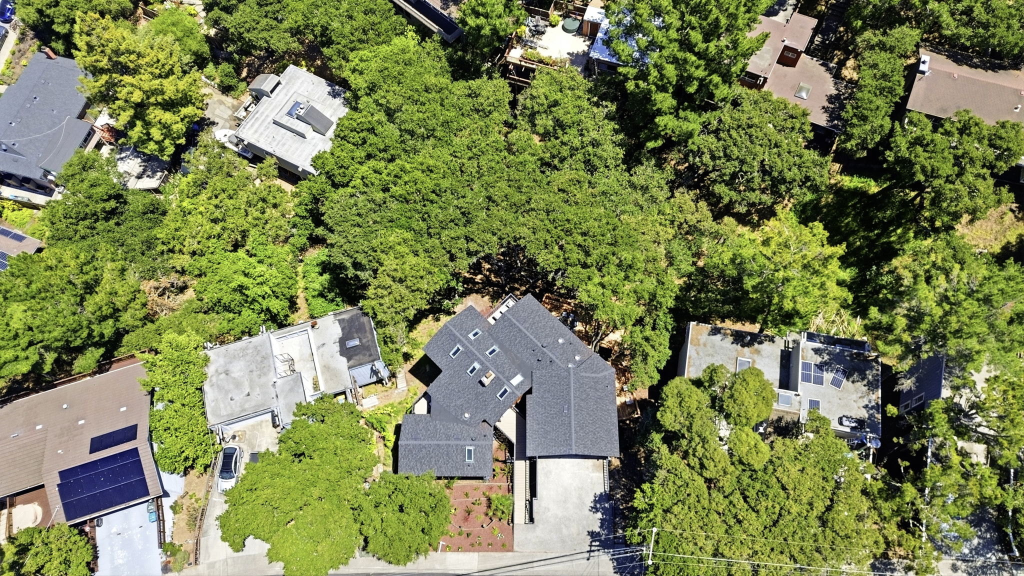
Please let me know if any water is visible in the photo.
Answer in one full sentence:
No, there is no water in the image.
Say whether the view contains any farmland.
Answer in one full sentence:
No, the picture contains no farmland.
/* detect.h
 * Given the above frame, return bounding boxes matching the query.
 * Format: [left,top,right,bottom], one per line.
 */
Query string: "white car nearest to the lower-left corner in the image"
[210,441,239,496]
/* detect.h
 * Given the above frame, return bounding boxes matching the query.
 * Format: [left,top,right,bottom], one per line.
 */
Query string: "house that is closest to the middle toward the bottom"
[398,293,619,478]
